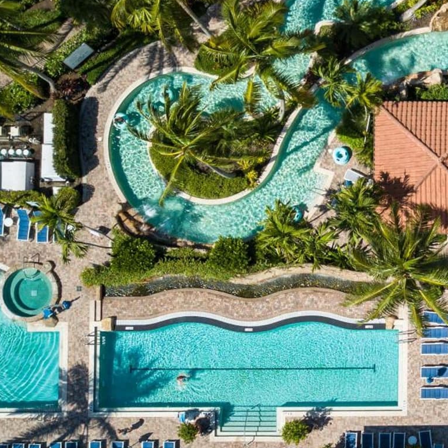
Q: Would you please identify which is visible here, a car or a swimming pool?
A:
swimming pool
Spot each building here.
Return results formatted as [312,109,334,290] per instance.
[0,160,47,191]
[373,100,448,234]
